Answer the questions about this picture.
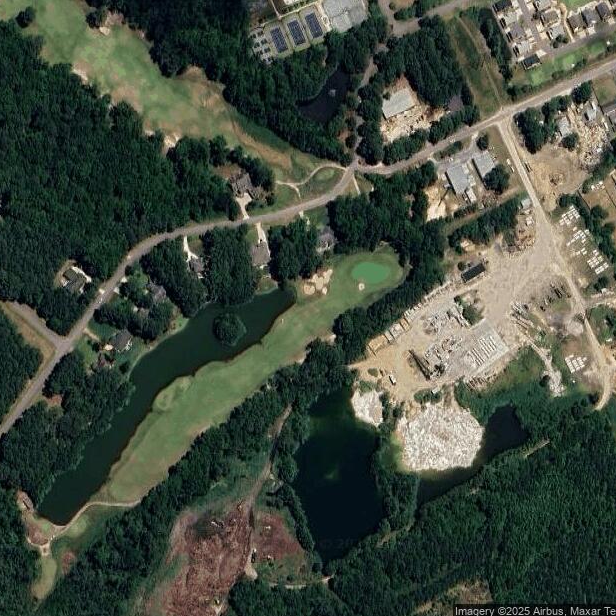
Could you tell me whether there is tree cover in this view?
Yes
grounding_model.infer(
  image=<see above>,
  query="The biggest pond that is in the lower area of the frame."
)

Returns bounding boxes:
[40,288,296,526]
